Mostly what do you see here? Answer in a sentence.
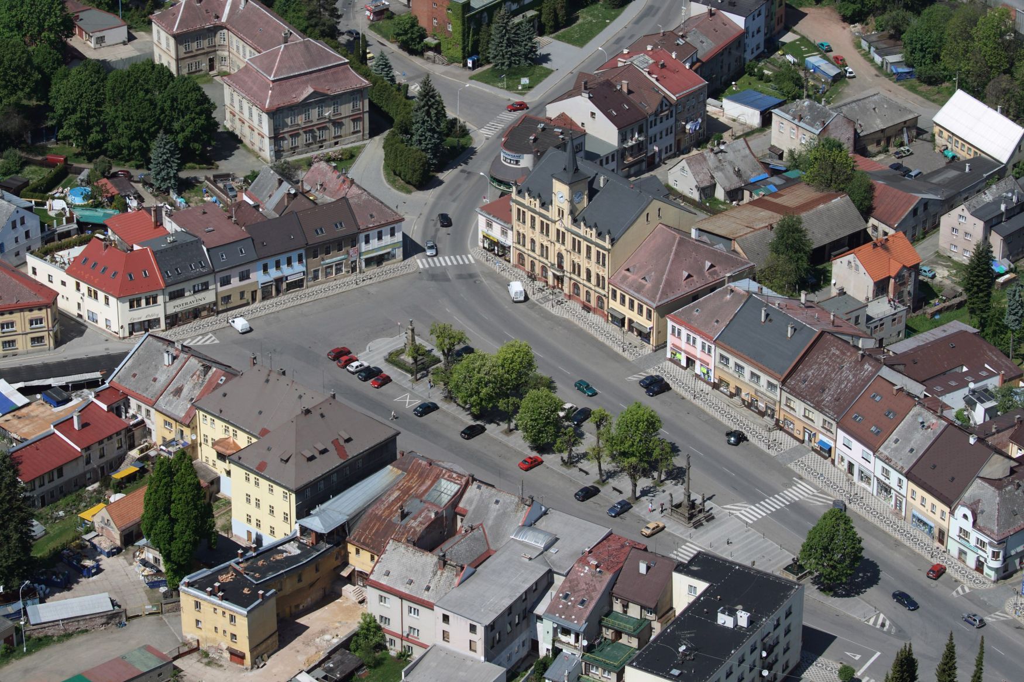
The bulk of the photo consists of buildings.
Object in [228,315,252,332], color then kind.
white vehicle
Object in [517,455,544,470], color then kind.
red car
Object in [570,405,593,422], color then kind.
black car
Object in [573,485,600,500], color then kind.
black car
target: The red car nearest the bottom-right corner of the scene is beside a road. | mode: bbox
[924,563,949,579]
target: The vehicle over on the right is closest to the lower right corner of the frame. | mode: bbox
[959,611,989,628]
